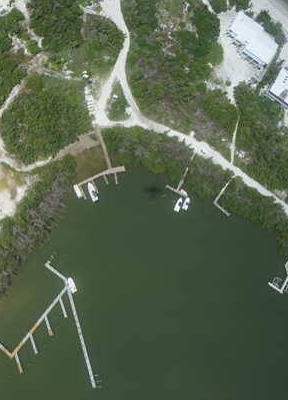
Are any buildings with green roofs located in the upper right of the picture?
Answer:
No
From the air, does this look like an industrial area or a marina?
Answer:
marina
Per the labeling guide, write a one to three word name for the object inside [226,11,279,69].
house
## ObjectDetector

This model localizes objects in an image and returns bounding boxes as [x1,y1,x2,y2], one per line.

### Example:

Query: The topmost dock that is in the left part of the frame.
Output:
[77,128,125,199]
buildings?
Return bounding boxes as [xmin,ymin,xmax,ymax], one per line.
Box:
[262,68,288,111]
[226,11,279,69]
